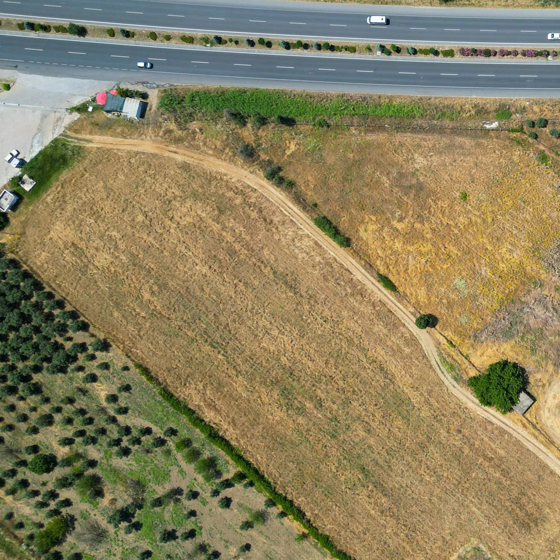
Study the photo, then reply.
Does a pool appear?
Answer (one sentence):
No, the scene contains no pool.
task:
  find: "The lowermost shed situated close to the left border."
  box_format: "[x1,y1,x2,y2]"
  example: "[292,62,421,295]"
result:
[0,189,21,212]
